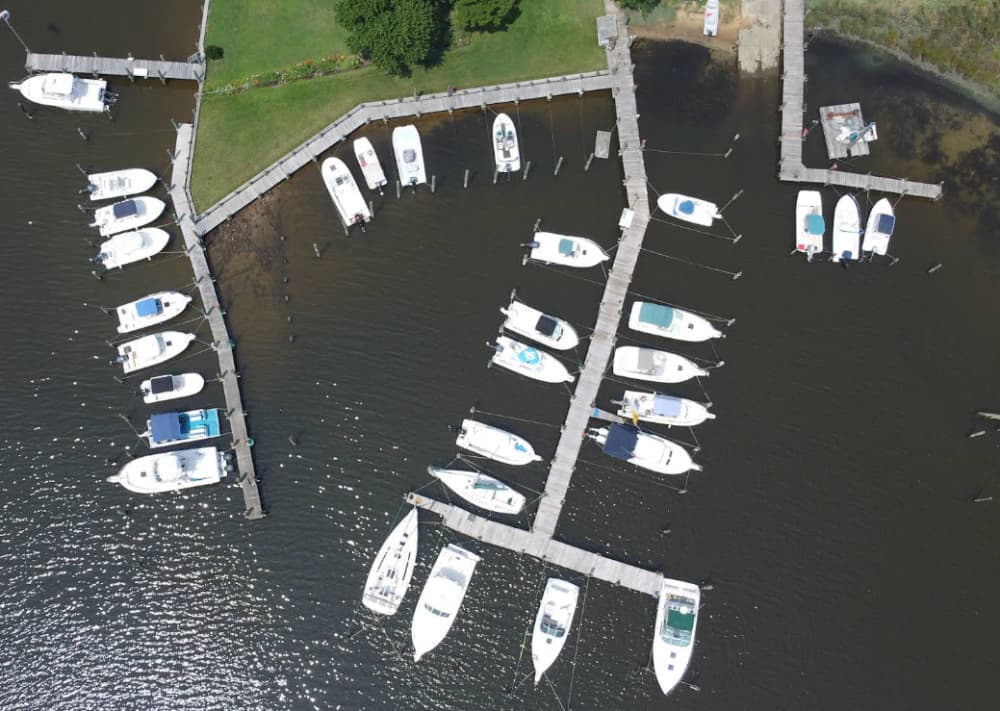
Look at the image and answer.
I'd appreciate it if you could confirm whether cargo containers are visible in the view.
No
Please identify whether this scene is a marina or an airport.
marina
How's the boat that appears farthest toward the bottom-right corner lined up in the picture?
from top to bottom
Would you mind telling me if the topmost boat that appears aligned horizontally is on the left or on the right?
left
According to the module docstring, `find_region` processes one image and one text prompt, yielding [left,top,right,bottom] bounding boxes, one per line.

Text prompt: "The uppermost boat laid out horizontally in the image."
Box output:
[7,73,120,111]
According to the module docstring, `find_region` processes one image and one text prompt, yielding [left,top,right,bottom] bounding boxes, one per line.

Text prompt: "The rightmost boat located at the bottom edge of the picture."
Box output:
[651,577,702,696]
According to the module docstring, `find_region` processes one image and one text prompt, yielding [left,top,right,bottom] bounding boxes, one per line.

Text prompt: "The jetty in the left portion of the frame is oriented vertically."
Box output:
[163,120,267,518]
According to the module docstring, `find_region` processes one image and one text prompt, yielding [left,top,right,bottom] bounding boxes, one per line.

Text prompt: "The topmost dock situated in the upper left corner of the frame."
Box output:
[21,44,200,87]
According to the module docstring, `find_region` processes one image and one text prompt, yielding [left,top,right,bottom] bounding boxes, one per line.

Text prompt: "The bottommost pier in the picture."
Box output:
[403,493,664,599]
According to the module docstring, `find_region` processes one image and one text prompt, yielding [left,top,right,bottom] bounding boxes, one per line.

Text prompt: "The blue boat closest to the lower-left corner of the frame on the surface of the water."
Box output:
[138,407,221,451]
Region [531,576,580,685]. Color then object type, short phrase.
white boat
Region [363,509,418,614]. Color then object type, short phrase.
white boat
